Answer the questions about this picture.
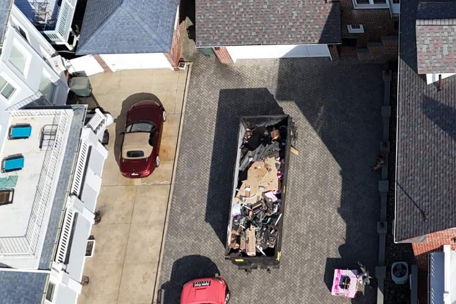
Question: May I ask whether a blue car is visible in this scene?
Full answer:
No, I can see no blue car in this picture.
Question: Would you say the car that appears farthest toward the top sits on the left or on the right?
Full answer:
The car that appears farthest toward the top appears in the left half of the scene.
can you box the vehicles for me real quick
[116,95,168,182]
[186,278,237,304]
